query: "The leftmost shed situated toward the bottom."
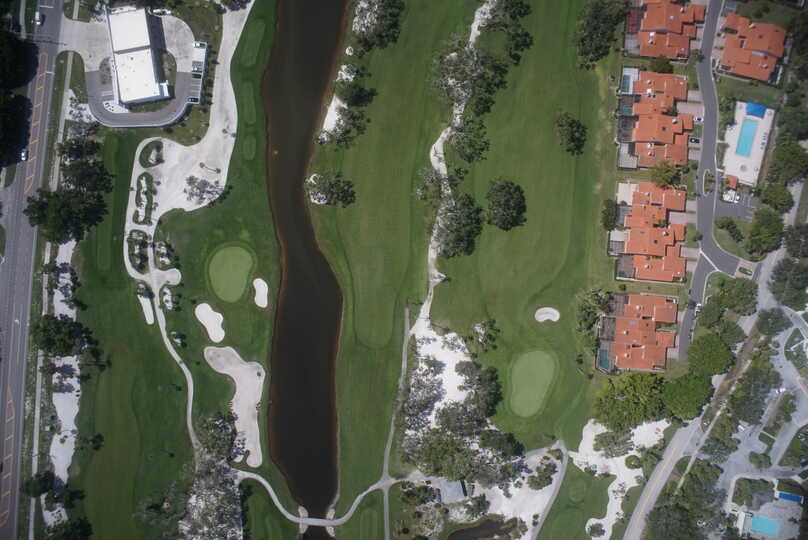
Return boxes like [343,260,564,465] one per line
[440,478,466,503]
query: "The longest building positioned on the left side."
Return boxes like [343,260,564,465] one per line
[109,6,167,107]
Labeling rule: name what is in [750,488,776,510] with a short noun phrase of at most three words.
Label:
building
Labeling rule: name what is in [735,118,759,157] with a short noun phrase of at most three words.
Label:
swimming pool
